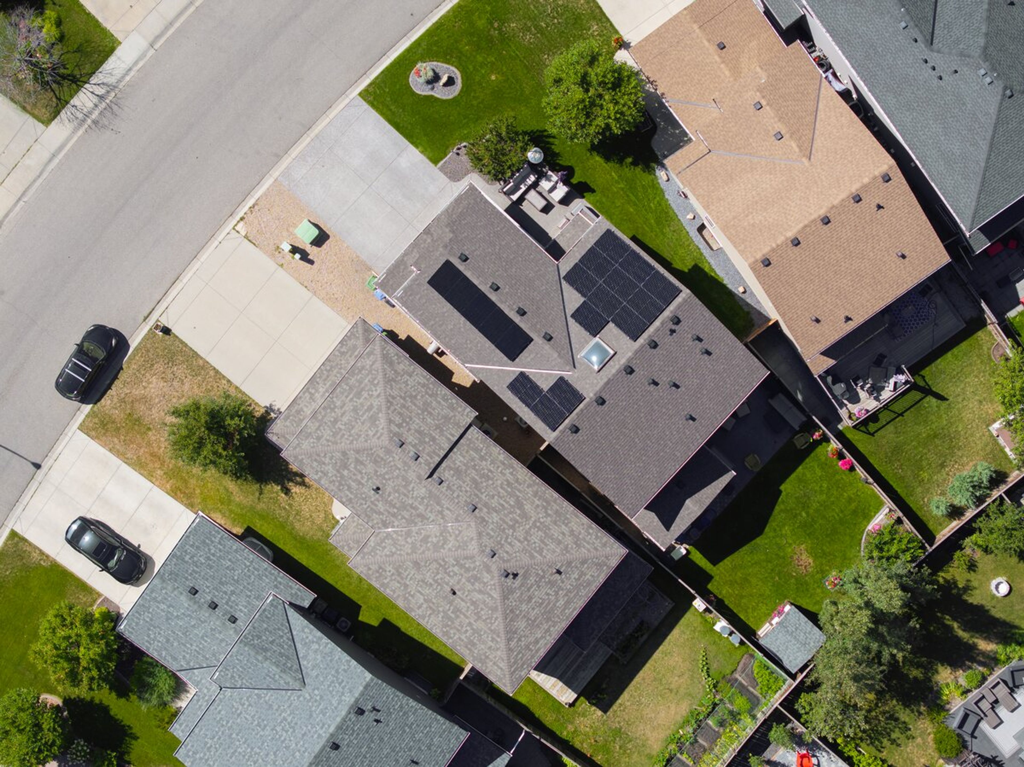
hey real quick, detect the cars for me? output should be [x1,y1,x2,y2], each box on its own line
[50,323,115,401]
[61,516,146,586]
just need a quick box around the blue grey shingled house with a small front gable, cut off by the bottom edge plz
[115,510,525,767]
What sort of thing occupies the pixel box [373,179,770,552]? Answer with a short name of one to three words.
house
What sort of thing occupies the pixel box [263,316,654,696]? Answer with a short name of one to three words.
house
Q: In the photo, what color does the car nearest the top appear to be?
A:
black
